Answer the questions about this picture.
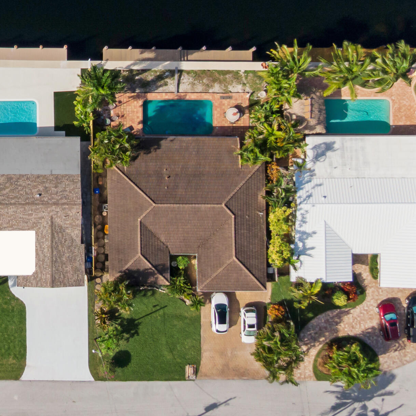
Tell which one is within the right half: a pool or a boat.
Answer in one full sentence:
Visible within the right half is a pool.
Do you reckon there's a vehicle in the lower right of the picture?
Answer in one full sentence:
Yes, there is a vehicle in the lower right of the picture.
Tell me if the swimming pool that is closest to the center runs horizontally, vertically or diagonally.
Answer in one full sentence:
The swimming pool that is closest to the center has been laid out horizontally relative to the frame.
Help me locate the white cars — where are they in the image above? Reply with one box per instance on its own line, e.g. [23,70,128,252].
[239,306,259,344]
[209,292,231,335]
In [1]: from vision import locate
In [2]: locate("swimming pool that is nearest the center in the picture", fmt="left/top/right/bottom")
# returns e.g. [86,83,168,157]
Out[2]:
[140,98,215,136]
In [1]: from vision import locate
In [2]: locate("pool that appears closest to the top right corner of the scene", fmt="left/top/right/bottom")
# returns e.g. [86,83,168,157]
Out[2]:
[324,96,393,135]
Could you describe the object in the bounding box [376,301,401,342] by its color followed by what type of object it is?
red car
